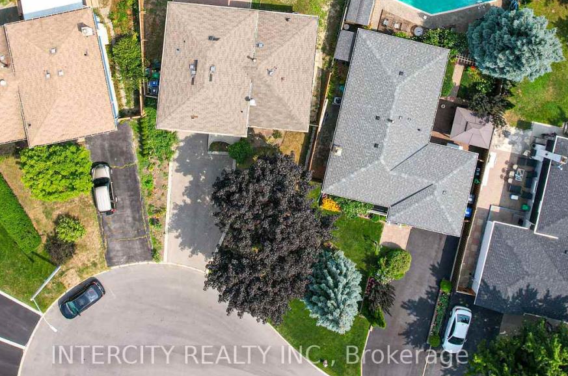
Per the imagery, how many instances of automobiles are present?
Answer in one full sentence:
My tally gives 3 automobiles in this view.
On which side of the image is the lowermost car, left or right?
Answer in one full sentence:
It is on the right.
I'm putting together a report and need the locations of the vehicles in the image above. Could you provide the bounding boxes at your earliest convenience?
[441,306,469,353]
[61,280,109,318]
[89,161,120,215]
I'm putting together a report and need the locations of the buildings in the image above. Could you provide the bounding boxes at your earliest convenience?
[343,0,373,24]
[323,27,480,238]
[470,135,568,323]
[0,6,123,148]
[155,0,319,138]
